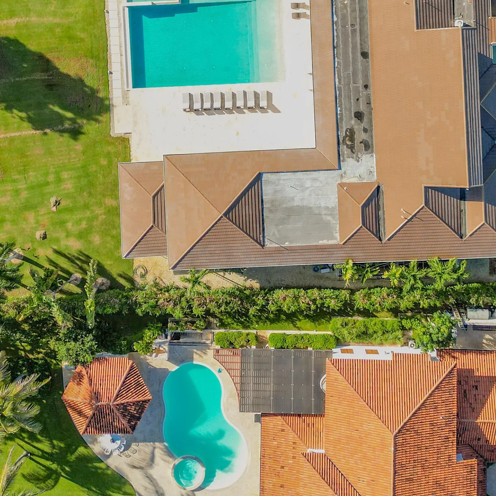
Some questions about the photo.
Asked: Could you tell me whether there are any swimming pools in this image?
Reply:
Yes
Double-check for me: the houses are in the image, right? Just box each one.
[118,0,496,271]
[260,340,496,496]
